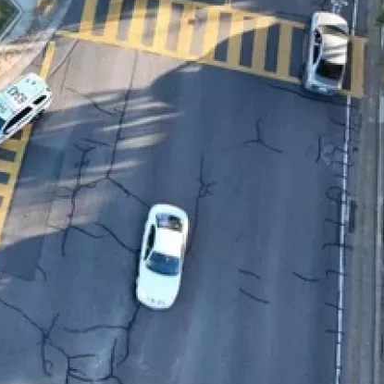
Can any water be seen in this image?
No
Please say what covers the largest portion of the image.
paved ground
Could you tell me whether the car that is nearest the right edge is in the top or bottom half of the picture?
top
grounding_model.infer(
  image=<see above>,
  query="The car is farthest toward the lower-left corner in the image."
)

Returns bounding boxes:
[133,201,191,316]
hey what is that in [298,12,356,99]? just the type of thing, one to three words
car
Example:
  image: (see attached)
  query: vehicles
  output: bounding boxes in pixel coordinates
[298,12,356,99]
[133,201,191,316]
[0,73,57,151]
